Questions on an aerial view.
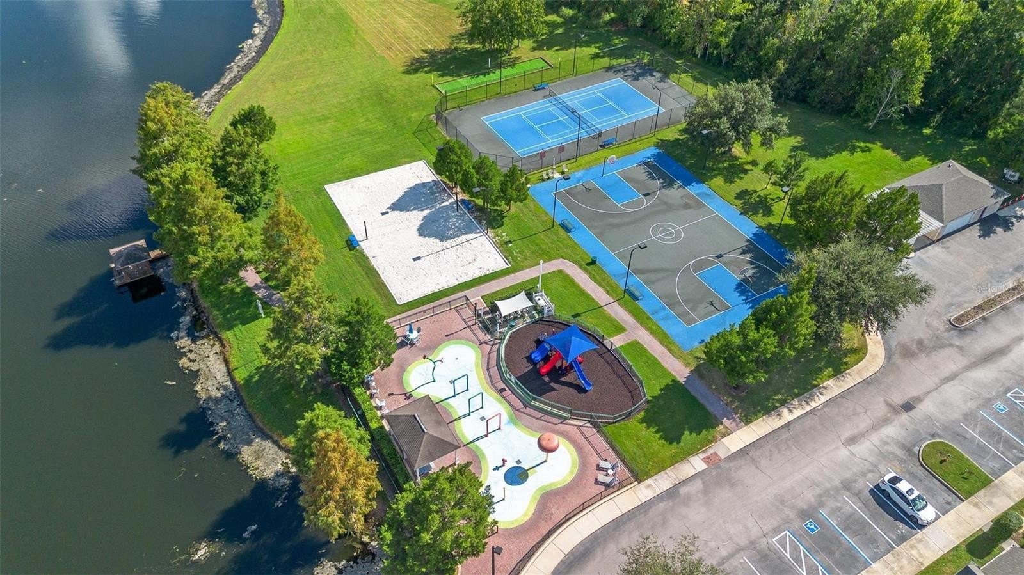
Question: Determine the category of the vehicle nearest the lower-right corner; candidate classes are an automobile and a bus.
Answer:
automobile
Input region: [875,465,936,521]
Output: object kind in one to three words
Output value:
car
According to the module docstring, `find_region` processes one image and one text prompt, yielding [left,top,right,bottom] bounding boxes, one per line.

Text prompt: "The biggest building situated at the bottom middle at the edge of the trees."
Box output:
[385,395,461,473]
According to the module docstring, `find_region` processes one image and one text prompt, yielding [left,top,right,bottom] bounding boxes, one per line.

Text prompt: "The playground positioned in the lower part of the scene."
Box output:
[502,318,644,417]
